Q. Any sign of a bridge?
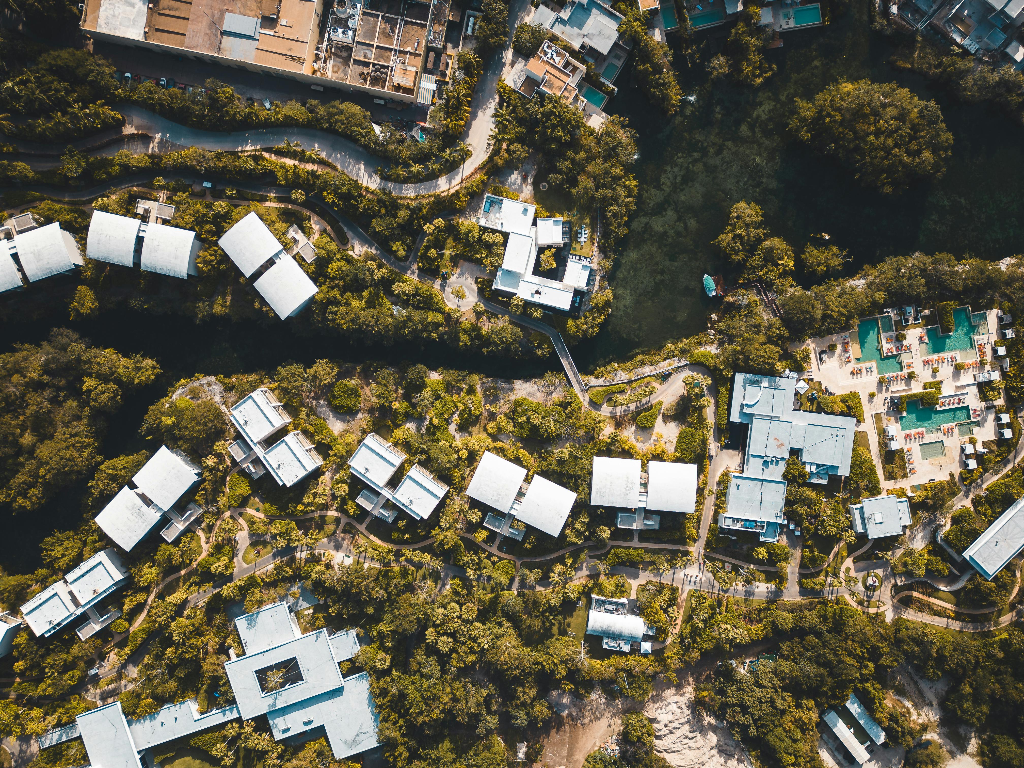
Yes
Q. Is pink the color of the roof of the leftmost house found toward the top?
No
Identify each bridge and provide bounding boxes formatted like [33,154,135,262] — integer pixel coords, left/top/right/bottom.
[550,334,586,392]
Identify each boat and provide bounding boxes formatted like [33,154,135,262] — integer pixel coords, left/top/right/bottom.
[702,276,716,299]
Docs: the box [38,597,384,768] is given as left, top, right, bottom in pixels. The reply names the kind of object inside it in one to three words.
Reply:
building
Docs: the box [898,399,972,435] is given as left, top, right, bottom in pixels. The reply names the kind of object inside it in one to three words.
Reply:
swimming pool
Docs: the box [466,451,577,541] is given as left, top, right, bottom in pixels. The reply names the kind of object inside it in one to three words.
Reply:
house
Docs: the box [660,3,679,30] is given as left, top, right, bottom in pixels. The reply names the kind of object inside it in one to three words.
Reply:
swimming pool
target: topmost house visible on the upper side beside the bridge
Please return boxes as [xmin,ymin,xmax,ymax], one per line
[479,194,598,313]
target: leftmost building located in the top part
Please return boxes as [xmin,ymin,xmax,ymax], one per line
[0,213,83,299]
